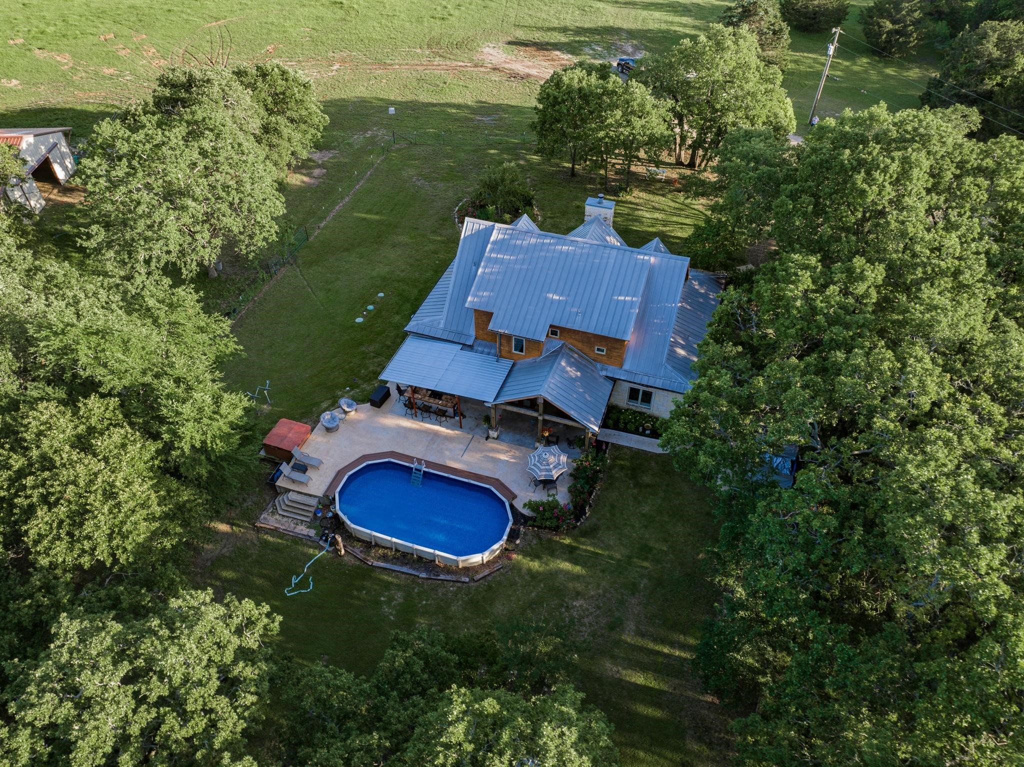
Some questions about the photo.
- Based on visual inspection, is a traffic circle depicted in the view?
No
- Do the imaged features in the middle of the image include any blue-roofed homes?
Yes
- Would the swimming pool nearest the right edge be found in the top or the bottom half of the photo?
bottom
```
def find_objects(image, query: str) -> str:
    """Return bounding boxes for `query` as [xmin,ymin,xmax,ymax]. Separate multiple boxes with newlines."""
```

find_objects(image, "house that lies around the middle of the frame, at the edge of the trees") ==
[402,195,725,458]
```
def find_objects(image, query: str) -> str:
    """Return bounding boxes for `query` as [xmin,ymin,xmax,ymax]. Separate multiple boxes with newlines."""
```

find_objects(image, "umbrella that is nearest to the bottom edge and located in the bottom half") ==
[524,445,569,486]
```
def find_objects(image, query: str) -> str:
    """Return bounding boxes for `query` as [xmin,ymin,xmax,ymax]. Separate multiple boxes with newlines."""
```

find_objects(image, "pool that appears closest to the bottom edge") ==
[329,459,514,569]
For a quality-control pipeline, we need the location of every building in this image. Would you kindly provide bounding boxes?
[402,195,725,458]
[0,129,79,217]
